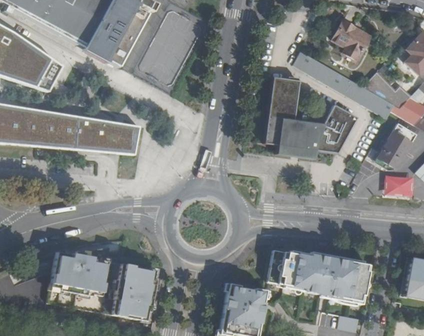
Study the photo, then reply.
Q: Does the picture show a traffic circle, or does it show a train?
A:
traffic circle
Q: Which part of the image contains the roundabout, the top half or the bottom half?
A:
bottom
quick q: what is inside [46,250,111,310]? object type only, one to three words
building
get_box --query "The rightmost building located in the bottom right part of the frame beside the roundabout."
[266,248,368,309]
